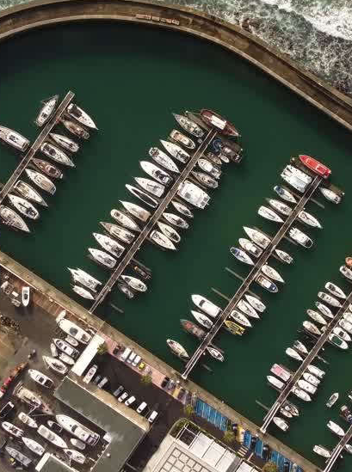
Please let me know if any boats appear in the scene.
Yes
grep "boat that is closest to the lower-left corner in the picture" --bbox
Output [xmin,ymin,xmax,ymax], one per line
[6,448,33,468]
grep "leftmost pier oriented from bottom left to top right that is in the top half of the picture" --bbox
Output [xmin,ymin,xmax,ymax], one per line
[0,90,75,205]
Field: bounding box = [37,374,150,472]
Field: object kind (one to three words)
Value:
building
